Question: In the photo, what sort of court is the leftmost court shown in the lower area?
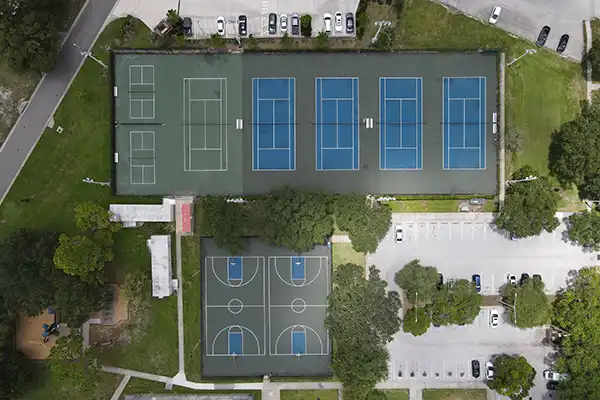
basketball court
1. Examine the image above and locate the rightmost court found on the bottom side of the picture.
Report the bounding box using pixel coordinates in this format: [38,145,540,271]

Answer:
[268,257,328,355]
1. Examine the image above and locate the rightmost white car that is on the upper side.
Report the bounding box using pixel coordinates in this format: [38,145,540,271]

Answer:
[488,5,502,25]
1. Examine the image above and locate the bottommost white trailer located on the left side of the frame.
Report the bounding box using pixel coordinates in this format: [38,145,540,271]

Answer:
[148,235,181,297]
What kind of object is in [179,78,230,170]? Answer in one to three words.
tennis court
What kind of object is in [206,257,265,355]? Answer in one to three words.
basketball court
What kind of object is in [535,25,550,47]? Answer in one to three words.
car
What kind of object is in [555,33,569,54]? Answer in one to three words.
car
